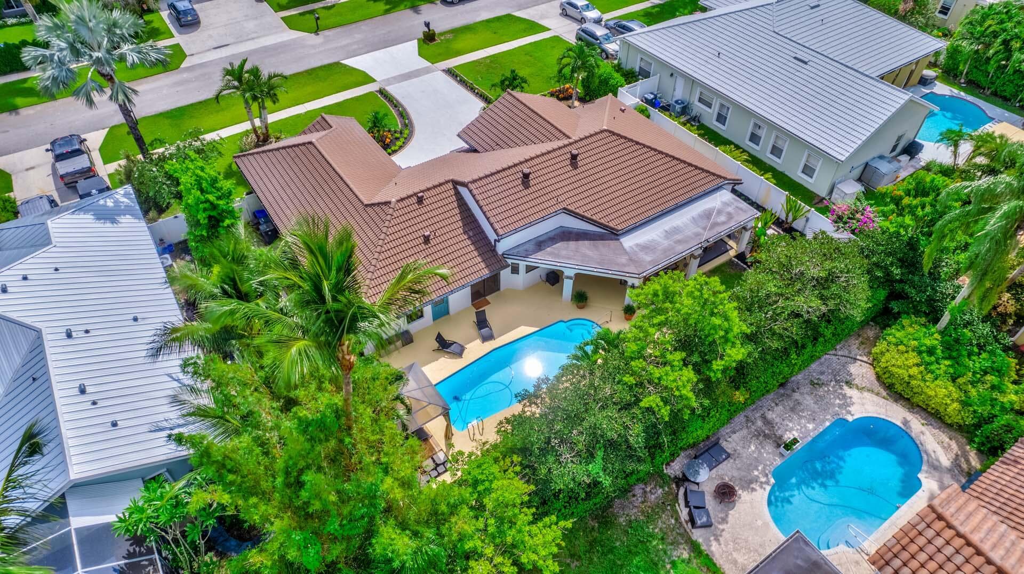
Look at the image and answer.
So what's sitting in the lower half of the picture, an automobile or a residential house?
residential house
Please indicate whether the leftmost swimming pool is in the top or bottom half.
bottom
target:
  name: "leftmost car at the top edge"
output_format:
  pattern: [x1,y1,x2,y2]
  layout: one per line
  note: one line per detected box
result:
[163,1,195,28]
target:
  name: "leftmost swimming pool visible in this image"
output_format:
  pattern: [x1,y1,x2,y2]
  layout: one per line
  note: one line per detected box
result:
[430,314,613,439]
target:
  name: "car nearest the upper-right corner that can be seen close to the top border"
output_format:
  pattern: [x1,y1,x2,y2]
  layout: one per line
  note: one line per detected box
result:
[602,17,645,37]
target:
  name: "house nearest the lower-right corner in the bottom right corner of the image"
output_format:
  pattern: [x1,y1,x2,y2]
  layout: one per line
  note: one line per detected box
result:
[860,438,1024,574]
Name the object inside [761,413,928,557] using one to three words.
swimming pool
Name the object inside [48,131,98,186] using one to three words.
truck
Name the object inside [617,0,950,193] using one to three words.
house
